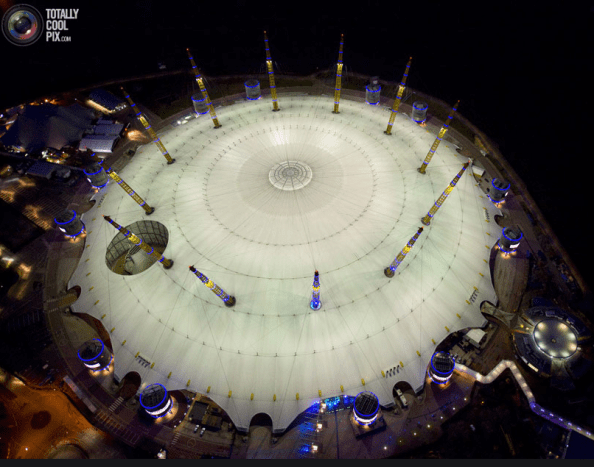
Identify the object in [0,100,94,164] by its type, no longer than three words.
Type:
tent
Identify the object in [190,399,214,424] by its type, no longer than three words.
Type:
building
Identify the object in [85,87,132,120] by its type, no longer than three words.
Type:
shed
